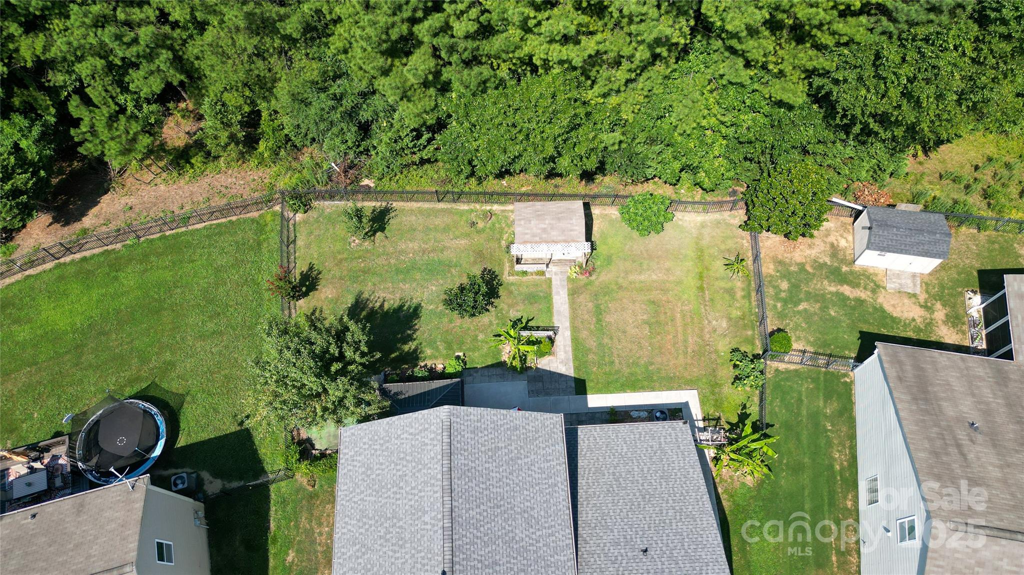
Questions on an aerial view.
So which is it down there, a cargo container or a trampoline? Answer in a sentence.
The image shows a trampoline.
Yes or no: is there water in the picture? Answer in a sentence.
No, the scene doesn't show any water.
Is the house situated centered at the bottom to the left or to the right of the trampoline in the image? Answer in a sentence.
To the right of the trampoline is where the house situated centered at the bottom appears.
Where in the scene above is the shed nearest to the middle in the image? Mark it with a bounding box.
[511,201,592,276]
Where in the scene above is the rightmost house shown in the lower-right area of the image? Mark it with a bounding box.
[852,273,1024,575]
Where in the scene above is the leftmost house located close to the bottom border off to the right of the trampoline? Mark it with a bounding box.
[328,404,727,575]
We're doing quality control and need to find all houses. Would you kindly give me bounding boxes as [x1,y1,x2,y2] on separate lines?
[852,273,1024,575]
[328,404,727,575]
[0,474,208,575]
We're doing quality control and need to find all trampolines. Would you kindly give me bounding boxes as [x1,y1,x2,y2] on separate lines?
[59,389,174,486]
